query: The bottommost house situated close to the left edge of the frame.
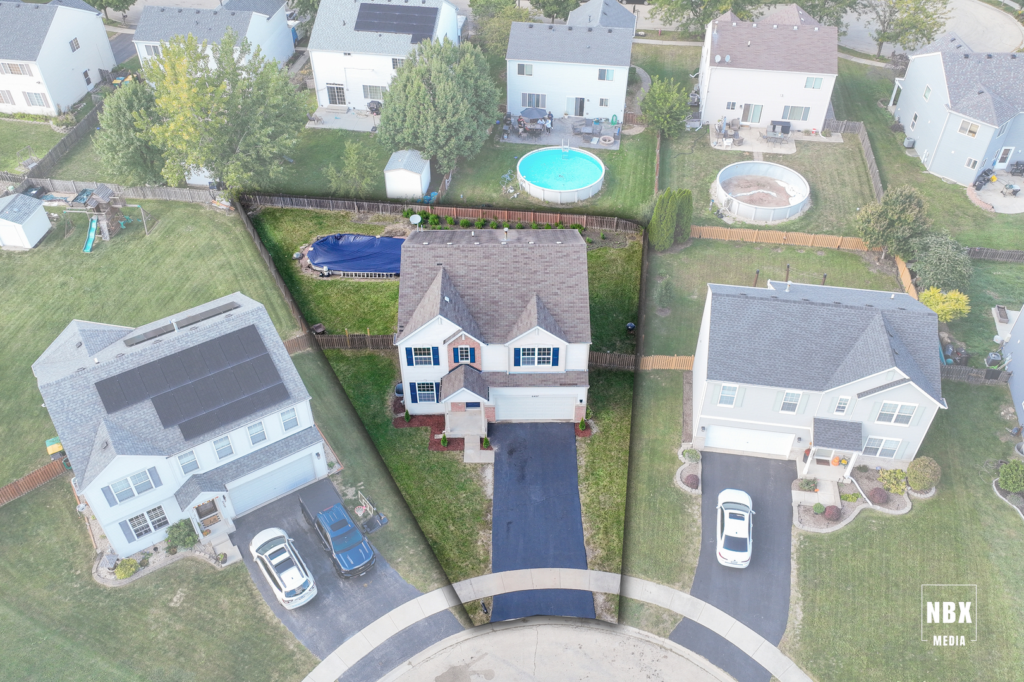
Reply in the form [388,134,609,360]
[32,288,341,564]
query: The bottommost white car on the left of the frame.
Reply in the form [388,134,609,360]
[256,526,318,613]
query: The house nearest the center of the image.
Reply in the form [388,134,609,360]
[395,214,593,449]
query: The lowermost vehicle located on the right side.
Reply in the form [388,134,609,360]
[715,488,756,569]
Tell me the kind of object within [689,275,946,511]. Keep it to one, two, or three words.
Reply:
house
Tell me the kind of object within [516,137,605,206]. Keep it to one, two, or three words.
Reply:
swimming pool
